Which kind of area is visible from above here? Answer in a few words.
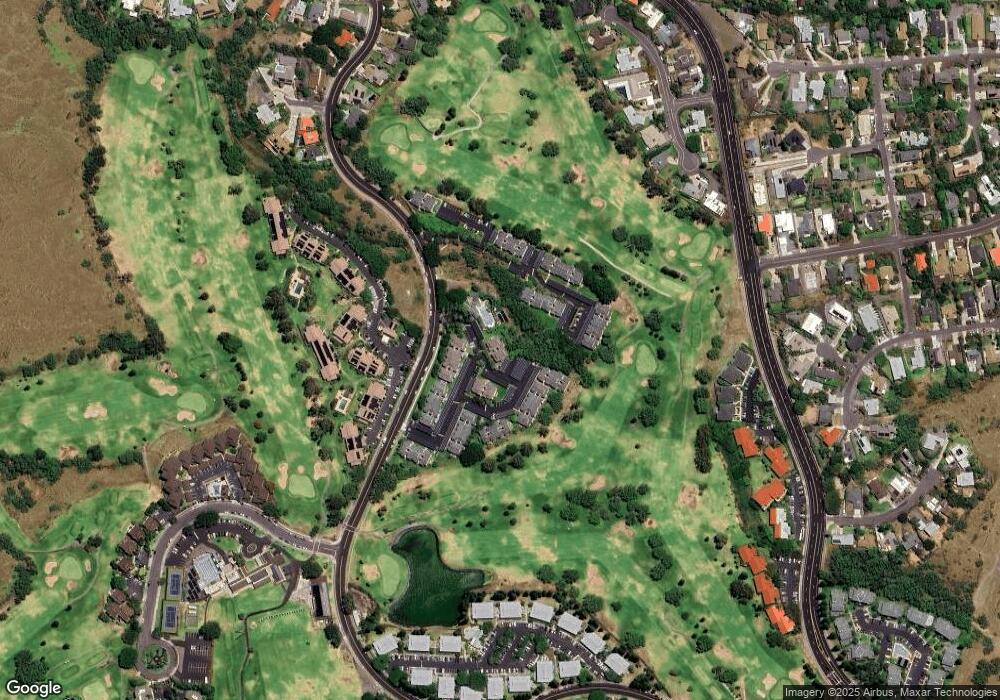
golf course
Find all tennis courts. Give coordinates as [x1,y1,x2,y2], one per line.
[163,599,181,634]
[167,566,185,600]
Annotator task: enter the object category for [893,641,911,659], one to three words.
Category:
swimming pool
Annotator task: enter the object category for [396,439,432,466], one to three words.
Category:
building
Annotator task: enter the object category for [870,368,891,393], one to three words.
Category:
house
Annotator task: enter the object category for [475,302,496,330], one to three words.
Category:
swimming pool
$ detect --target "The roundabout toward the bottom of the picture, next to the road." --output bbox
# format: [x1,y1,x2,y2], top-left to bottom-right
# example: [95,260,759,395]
[136,638,179,680]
